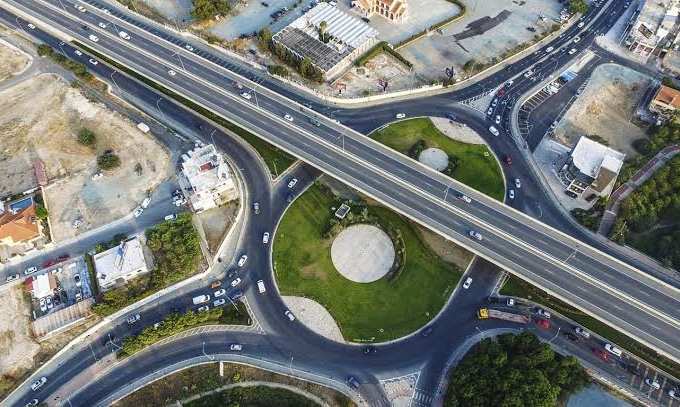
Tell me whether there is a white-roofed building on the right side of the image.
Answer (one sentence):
Yes, there is a white-roofed building on the right side of the image.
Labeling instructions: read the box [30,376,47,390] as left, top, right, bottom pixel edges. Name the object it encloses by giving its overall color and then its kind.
white car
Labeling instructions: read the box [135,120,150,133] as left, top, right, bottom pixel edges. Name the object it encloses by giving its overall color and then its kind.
white vehicle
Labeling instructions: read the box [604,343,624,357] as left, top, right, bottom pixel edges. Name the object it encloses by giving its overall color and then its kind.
white vehicle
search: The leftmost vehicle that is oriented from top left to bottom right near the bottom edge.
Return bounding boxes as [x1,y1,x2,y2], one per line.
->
[345,374,362,390]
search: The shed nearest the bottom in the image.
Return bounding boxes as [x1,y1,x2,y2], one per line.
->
[33,299,96,339]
